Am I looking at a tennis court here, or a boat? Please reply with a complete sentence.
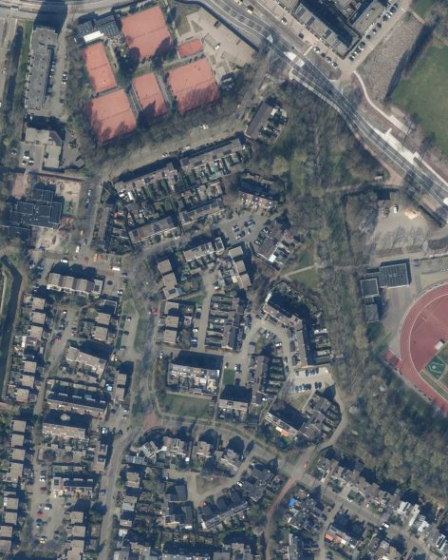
Visible in the photo is a tennis court.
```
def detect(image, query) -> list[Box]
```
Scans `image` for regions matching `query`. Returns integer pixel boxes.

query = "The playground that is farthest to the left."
[38,231,63,252]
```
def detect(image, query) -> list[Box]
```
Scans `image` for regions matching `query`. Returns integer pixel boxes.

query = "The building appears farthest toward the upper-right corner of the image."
[352,0,390,33]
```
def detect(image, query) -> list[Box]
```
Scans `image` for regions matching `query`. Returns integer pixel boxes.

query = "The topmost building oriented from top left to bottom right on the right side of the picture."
[291,0,347,54]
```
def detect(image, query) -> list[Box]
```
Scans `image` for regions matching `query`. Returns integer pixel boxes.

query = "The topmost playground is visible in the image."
[57,183,81,219]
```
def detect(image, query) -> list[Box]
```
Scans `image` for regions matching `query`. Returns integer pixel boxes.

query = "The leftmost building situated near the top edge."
[20,25,53,113]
